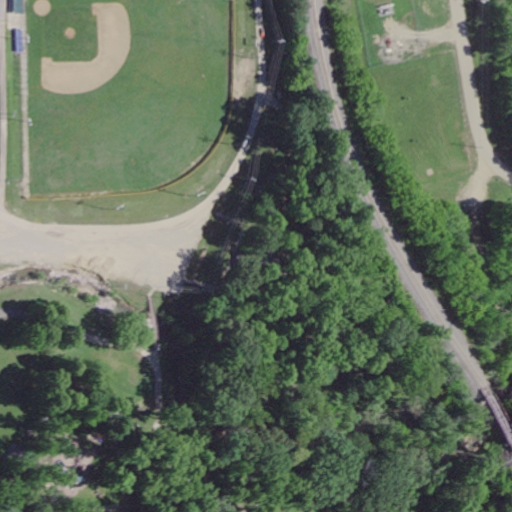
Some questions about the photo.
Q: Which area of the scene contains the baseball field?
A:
top left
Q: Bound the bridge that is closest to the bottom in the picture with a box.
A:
[476,384,512,446]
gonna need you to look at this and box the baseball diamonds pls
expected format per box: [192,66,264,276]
[20,0,233,199]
